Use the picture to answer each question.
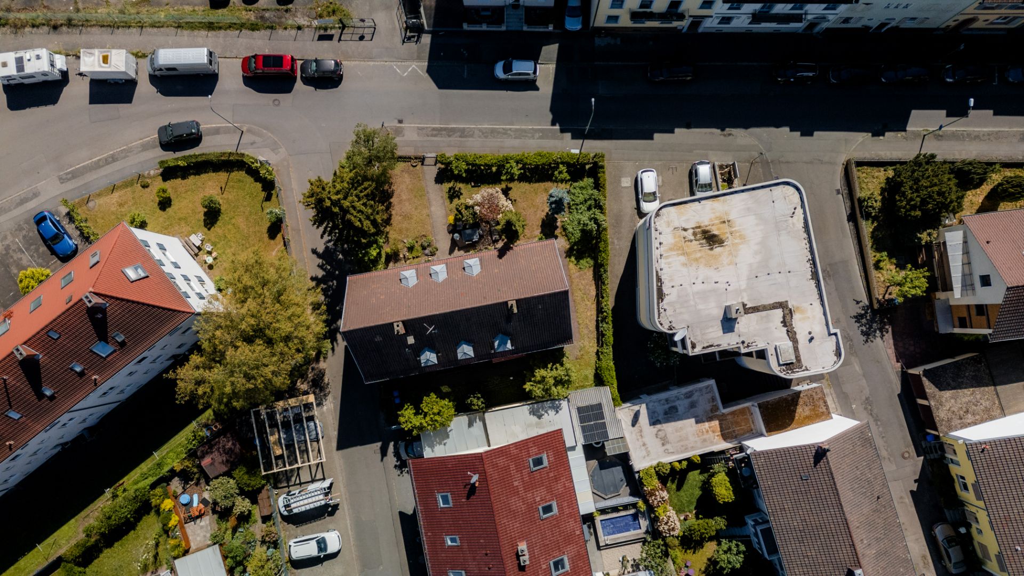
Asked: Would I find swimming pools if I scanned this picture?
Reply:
Yes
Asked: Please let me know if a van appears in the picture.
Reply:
Yes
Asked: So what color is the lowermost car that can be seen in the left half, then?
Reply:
white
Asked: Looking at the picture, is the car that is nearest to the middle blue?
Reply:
No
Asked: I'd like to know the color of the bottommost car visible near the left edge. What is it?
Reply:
blue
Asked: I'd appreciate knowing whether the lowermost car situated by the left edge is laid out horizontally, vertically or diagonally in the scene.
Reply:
diagonally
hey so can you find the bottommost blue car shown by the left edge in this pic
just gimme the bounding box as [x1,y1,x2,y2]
[29,212,74,259]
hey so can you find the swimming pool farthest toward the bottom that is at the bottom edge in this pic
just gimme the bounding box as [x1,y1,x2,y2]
[593,506,647,551]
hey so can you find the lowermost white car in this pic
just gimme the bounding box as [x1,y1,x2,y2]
[286,532,340,561]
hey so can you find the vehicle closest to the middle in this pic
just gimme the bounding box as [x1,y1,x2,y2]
[638,169,663,214]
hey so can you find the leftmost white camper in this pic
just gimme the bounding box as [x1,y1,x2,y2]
[0,49,71,87]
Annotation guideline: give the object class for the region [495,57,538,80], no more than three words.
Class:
car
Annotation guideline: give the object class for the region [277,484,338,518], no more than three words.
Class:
van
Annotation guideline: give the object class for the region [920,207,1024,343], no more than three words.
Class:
house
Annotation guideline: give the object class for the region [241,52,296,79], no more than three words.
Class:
vehicle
